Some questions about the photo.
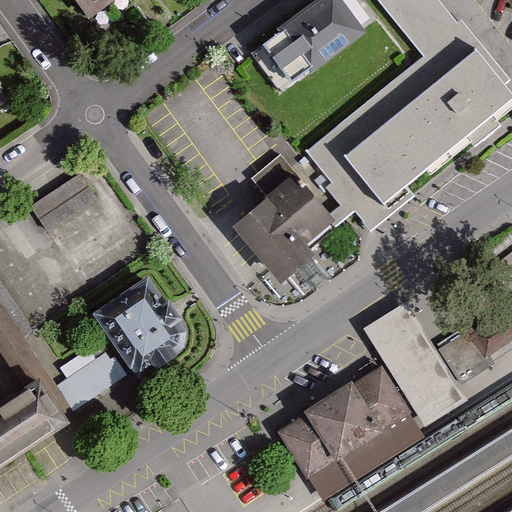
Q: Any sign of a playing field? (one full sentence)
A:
No, there is no playing field in the image.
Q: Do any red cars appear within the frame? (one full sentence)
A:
Yes, the frame does contain a red car.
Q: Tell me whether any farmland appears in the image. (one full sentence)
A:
No, the picture contains no farmland.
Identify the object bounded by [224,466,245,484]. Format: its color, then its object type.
red car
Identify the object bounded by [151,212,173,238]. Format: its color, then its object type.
white vehicle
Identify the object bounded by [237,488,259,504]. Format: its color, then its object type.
red car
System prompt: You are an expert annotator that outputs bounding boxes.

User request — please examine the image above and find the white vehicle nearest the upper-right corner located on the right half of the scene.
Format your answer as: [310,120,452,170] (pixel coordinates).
[426,199,451,216]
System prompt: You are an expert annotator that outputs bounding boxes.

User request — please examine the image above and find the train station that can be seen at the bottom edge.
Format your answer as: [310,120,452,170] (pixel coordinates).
[278,366,425,502]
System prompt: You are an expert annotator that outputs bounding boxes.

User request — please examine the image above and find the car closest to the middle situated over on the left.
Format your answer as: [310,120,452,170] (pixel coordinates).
[168,236,189,260]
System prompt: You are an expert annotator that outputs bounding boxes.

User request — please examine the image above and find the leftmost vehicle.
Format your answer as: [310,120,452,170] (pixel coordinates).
[2,146,26,164]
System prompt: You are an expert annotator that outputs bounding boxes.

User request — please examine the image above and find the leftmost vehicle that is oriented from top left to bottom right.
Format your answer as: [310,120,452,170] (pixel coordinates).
[34,50,51,70]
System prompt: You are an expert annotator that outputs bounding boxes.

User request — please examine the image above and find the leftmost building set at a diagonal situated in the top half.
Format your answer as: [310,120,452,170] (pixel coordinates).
[34,177,96,230]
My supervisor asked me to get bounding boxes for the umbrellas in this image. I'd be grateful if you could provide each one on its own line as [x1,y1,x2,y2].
[95,11,110,26]
[114,0,130,11]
